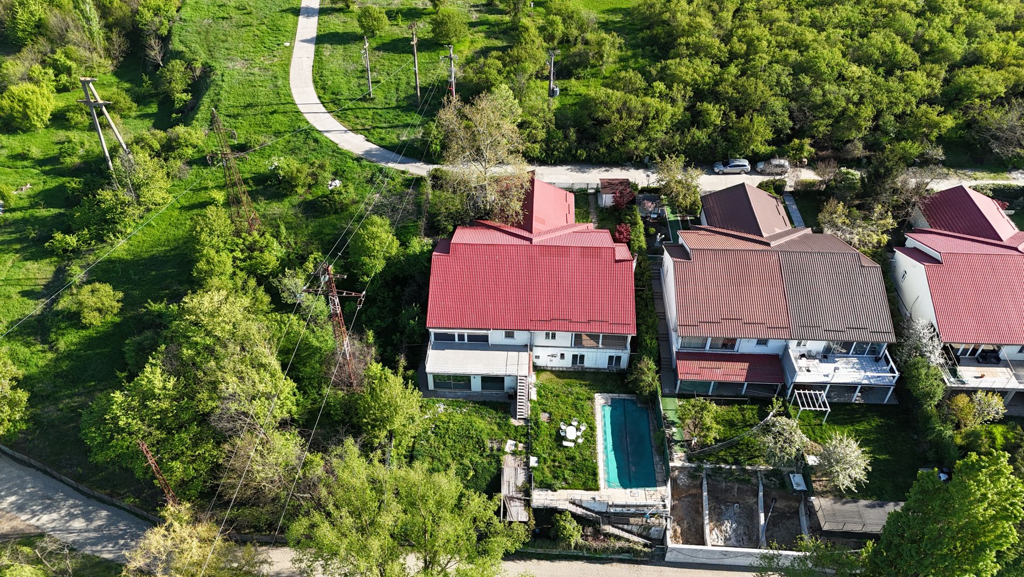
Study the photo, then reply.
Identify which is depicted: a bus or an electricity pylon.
electricity pylon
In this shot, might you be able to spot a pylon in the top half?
Yes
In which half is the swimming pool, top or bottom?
bottom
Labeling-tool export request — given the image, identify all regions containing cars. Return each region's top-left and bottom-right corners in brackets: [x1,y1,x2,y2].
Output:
[713,159,753,176]
[755,159,793,176]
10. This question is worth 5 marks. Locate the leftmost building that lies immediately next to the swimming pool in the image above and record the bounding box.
[415,175,640,427]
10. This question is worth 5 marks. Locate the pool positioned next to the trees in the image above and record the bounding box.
[595,392,668,492]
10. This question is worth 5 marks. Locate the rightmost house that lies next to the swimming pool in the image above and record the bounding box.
[661,180,902,404]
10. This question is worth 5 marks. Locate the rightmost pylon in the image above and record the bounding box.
[304,263,364,378]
